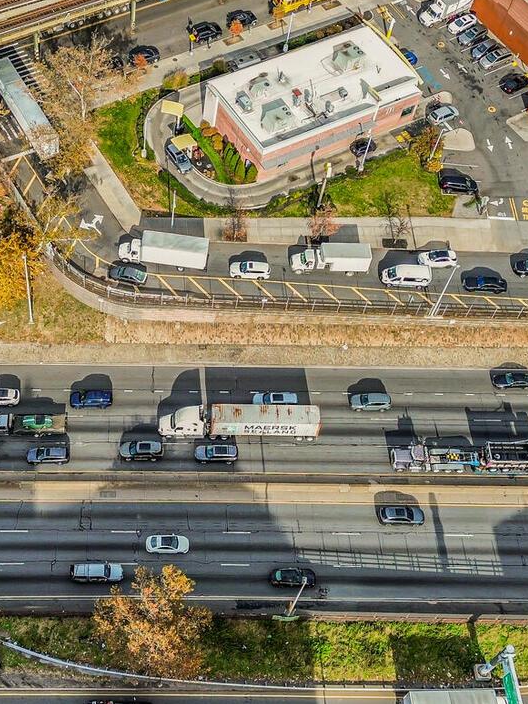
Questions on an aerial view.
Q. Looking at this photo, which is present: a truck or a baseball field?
truck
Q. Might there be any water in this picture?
No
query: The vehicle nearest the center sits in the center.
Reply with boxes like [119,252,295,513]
[251,388,296,405]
